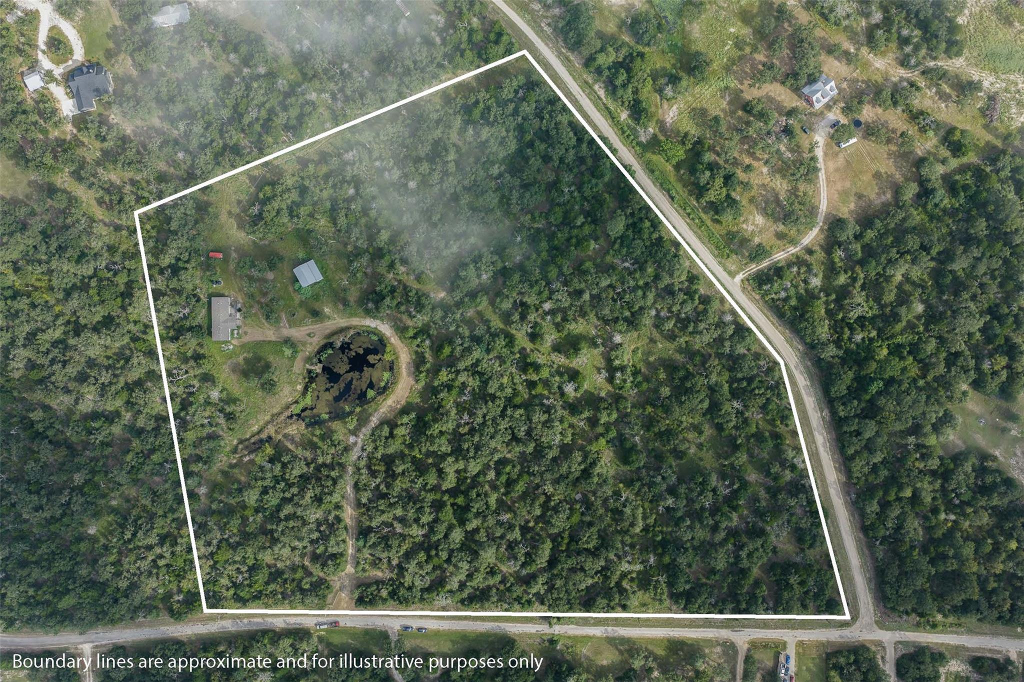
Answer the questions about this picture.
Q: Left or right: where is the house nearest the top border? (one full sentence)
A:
The house nearest the top border appears in the left half of the scene.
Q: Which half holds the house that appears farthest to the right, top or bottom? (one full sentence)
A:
Seen from above, the house that appears farthest to the right lies in the top half of the view.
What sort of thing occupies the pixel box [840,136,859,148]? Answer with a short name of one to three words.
vehicle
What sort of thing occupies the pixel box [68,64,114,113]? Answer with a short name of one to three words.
house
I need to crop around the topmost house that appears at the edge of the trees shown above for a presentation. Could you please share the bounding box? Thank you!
[150,3,191,29]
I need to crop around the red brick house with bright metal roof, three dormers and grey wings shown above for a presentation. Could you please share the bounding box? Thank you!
[799,74,838,112]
